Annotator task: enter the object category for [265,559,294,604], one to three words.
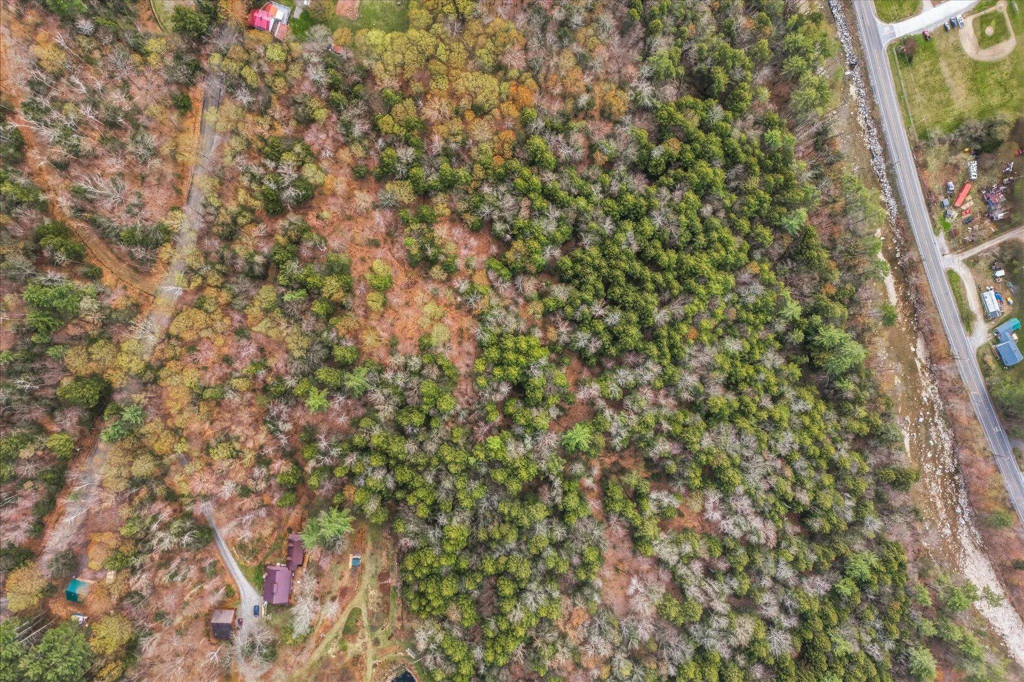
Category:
house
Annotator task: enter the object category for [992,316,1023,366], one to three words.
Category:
house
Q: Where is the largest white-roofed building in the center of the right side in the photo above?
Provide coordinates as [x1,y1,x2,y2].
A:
[977,289,1001,319]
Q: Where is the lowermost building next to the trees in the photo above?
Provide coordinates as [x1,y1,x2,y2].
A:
[209,607,235,638]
